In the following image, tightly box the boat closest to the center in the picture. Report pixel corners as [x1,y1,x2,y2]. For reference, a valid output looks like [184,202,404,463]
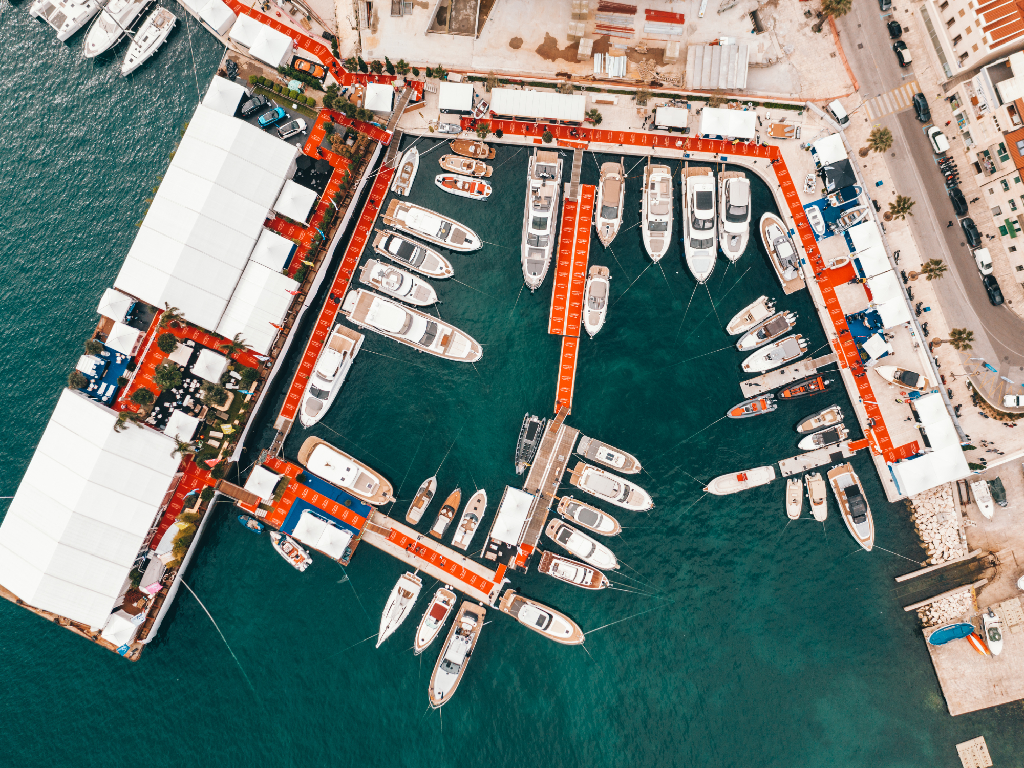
[515,417,544,474]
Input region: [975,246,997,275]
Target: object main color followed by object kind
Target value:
white vehicle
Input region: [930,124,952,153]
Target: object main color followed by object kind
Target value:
white car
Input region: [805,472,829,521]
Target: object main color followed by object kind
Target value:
white boat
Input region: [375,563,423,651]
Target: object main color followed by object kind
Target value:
white boat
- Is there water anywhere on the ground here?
Yes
